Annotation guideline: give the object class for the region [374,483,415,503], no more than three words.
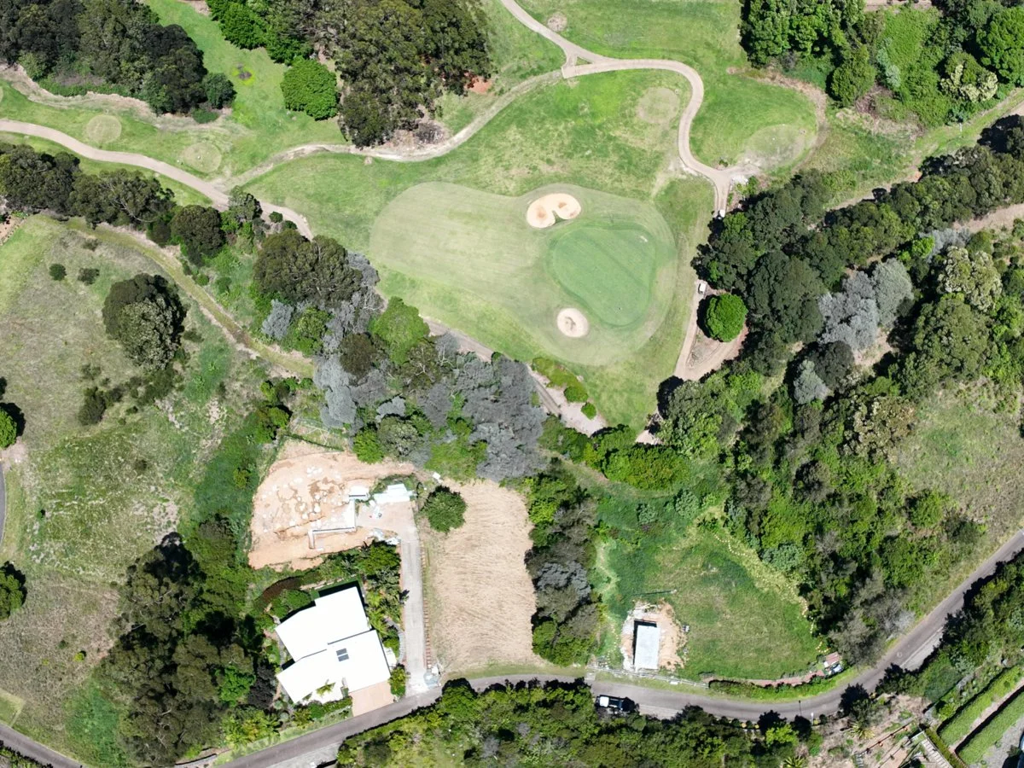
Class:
shed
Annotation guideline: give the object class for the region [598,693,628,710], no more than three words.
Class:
vehicle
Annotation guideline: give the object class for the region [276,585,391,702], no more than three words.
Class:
house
